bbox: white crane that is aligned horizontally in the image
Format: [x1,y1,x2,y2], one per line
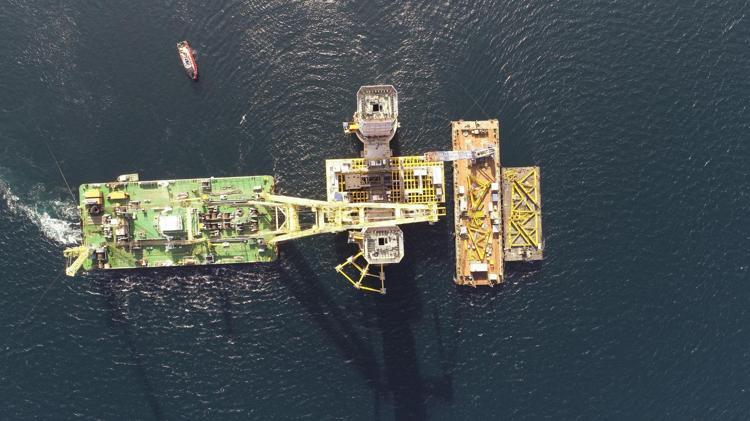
[423,146,500,165]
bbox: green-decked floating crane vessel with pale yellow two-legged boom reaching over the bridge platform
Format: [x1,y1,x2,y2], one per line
[64,174,447,275]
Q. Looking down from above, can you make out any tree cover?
No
